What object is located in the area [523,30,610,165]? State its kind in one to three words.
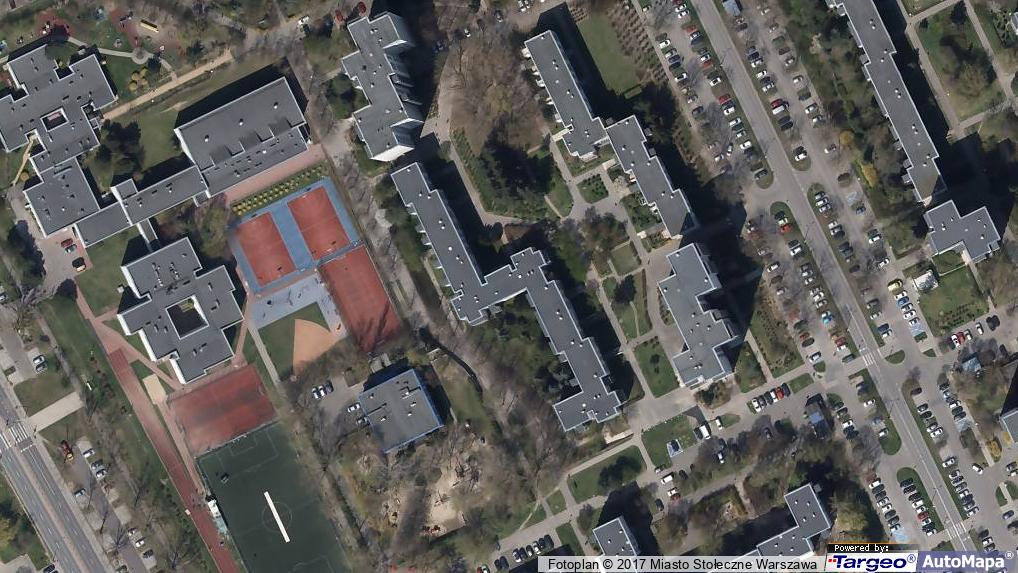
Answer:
building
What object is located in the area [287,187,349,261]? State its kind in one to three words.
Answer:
basketball court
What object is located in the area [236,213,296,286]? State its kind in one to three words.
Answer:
basketball court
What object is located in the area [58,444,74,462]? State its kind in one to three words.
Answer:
vehicle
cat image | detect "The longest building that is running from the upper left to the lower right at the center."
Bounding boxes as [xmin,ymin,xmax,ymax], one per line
[392,162,624,435]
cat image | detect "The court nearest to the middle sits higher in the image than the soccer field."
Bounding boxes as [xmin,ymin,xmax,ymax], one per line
[318,245,405,352]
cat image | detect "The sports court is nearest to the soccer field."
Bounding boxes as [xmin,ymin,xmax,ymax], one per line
[168,364,276,455]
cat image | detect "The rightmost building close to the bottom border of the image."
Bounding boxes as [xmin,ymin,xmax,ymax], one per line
[758,484,832,573]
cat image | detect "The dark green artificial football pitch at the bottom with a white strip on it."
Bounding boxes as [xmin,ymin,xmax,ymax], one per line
[197,421,355,573]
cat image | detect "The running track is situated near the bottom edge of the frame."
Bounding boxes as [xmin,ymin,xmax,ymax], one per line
[108,349,236,573]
